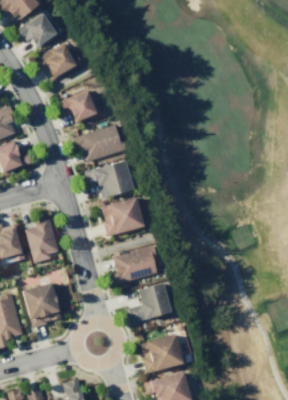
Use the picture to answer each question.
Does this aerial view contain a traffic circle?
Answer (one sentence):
Yes, there's a traffic circle here.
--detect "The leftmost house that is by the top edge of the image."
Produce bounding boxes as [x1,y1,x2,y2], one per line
[2,0,38,19]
